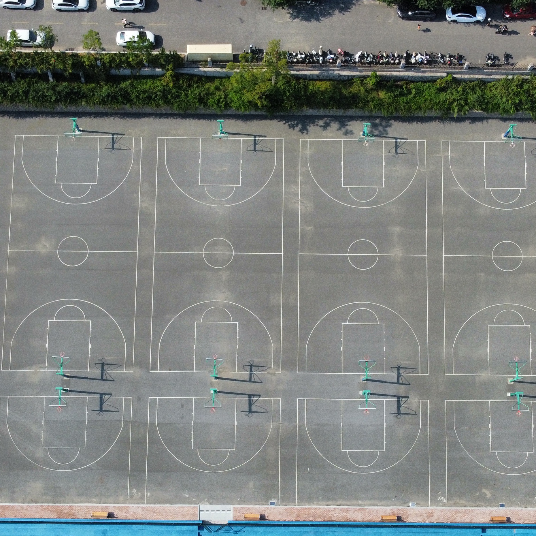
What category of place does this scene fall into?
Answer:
sports ground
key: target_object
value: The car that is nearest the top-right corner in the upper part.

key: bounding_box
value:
[502,2,536,23]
